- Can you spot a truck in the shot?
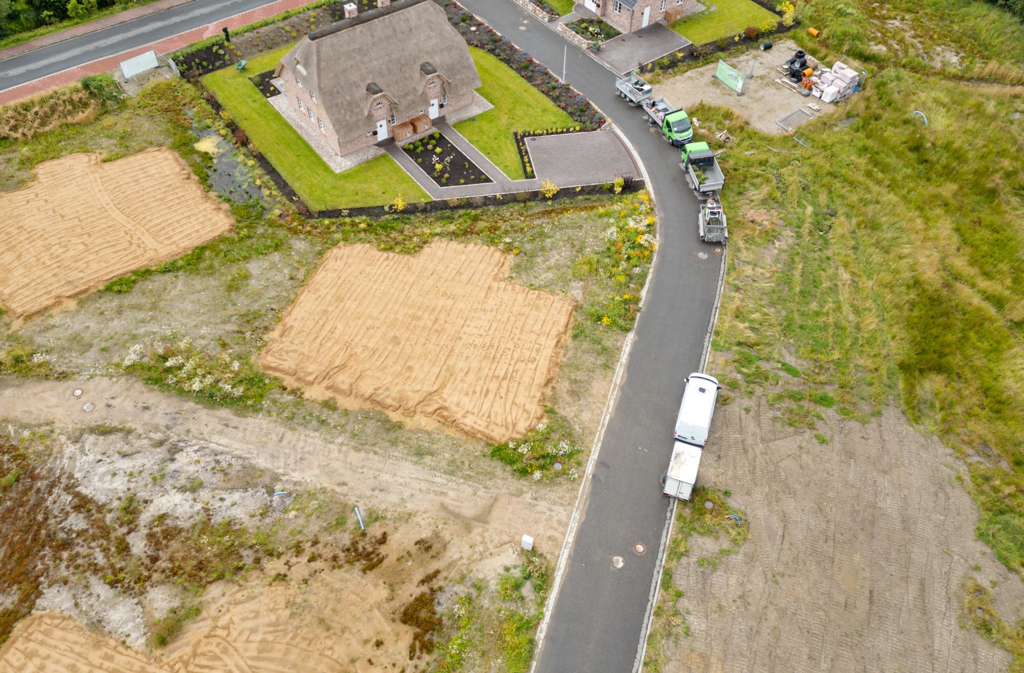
Yes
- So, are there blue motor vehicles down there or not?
No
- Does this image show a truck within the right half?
Yes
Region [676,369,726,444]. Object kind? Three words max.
van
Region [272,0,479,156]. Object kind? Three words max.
house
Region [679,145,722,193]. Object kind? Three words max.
truck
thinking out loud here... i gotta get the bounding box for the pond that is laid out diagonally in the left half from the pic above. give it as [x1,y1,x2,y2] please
[190,108,277,205]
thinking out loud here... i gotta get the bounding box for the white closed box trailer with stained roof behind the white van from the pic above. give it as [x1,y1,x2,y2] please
[663,440,703,501]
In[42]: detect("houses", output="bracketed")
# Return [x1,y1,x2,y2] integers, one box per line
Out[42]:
[564,0,693,33]
[272,0,479,156]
